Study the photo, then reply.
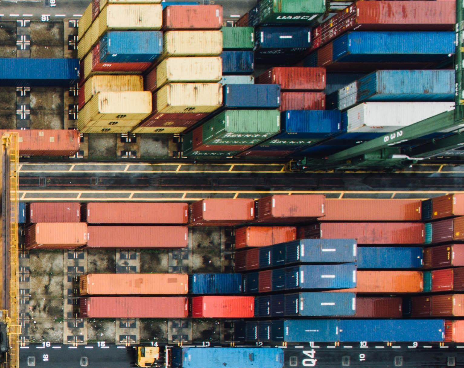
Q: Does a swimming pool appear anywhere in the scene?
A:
No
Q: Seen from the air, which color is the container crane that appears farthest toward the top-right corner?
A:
green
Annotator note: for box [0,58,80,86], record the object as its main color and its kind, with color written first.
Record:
blue shipping container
